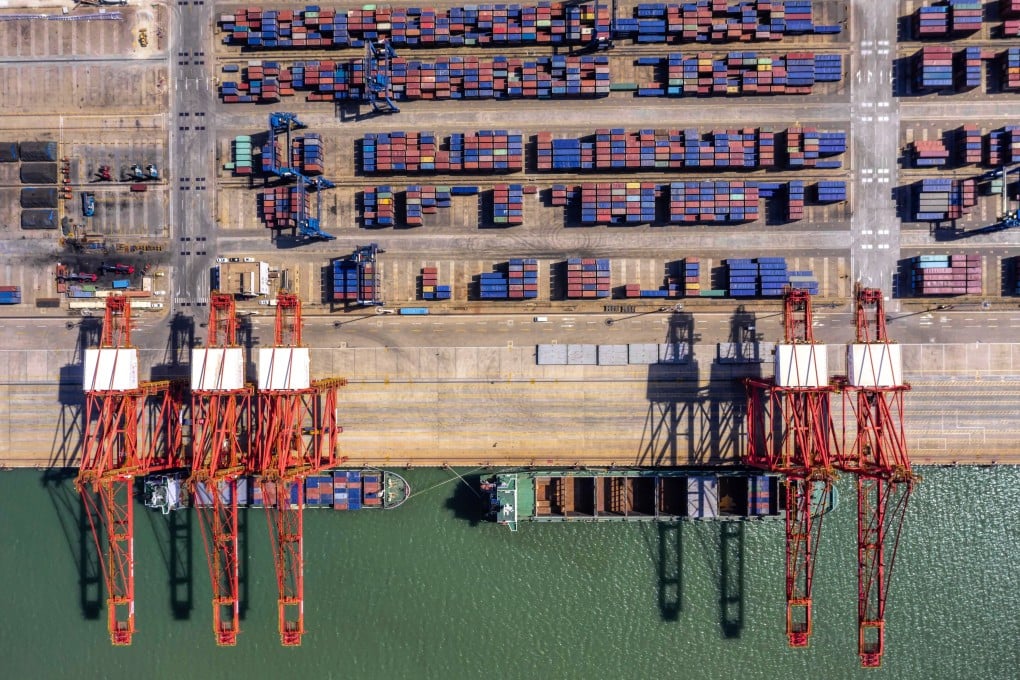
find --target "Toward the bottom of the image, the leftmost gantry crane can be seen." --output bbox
[72,290,204,647]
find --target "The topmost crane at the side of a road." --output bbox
[585,0,618,51]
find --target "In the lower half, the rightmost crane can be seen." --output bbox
[792,286,917,668]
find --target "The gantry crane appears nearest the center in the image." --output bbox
[356,240,391,308]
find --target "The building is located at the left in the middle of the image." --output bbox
[219,262,268,296]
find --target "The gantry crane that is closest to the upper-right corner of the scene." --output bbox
[964,165,1020,235]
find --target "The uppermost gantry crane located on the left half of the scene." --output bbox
[366,36,402,114]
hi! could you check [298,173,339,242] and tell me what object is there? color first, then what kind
blue container crane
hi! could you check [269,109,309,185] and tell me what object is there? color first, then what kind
blue container crane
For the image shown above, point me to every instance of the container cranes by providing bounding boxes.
[72,290,204,647]
[269,109,309,185]
[256,290,352,647]
[356,240,391,308]
[792,286,917,668]
[298,173,339,242]
[186,290,280,647]
[585,0,618,51]
[729,286,840,648]
[366,36,402,114]
[964,165,1020,235]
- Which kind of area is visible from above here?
port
